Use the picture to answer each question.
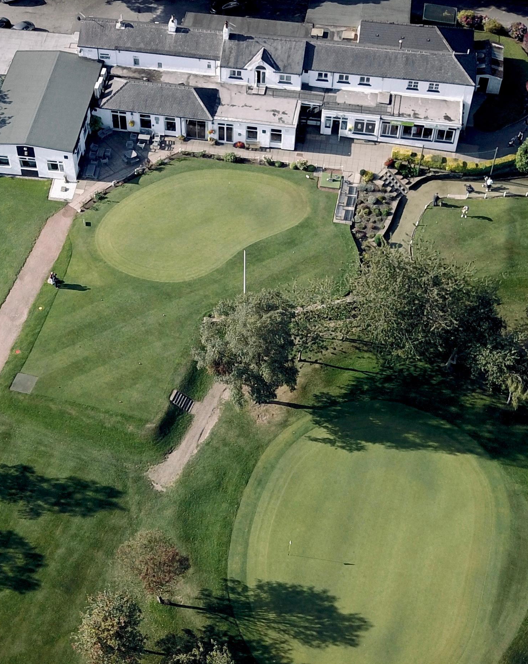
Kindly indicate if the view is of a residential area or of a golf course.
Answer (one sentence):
It's a golf course.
